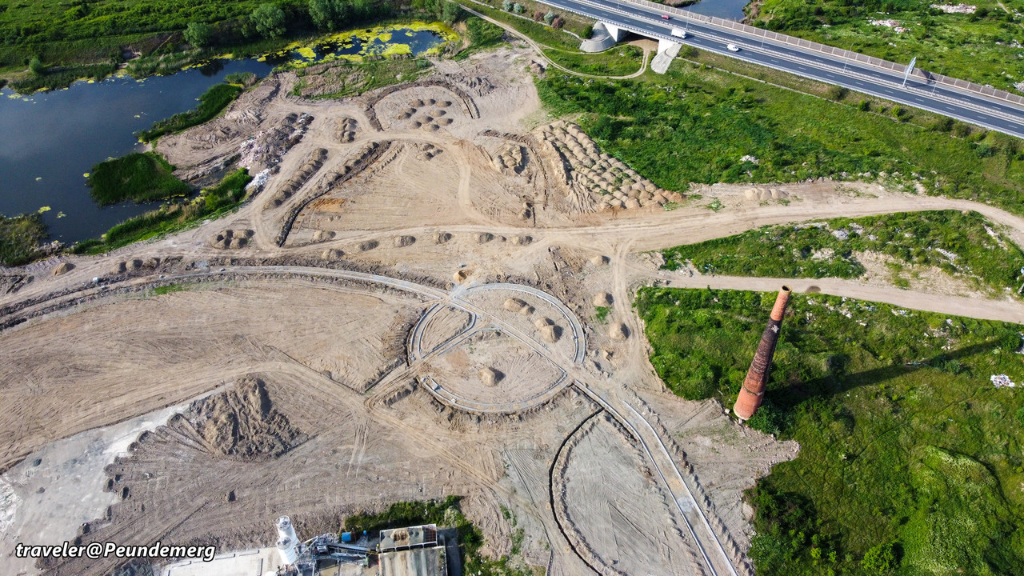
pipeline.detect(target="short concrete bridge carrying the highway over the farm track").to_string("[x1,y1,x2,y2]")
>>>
[603,21,683,55]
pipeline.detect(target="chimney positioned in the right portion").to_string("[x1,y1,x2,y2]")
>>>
[736,289,794,415]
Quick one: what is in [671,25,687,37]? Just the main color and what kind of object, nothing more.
white vehicle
